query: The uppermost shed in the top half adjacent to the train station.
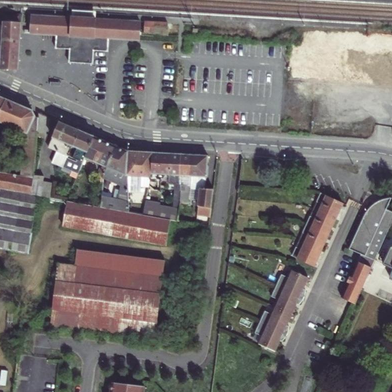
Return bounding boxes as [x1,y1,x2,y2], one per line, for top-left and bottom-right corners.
[143,20,168,36]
